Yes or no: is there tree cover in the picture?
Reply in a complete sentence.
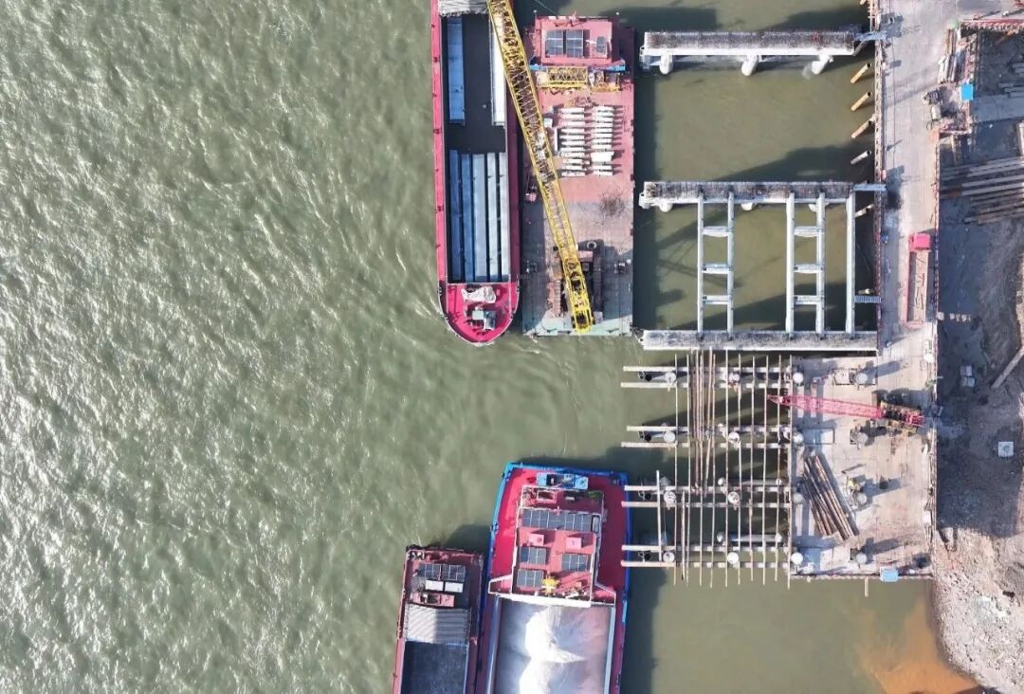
No, the picture contains no tree cover.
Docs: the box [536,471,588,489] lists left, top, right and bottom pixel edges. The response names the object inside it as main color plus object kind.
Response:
blue boat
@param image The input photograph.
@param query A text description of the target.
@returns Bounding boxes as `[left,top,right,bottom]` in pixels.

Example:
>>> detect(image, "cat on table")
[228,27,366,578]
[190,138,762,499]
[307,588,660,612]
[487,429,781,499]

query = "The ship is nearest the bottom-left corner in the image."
[391,543,485,694]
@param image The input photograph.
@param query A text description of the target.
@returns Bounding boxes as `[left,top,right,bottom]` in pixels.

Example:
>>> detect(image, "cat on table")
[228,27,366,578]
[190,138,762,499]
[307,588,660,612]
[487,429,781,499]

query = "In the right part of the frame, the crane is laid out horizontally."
[746,388,928,430]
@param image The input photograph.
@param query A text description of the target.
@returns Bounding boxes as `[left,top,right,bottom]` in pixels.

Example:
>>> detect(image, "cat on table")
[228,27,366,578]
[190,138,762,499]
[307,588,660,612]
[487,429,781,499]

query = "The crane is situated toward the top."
[487,0,604,331]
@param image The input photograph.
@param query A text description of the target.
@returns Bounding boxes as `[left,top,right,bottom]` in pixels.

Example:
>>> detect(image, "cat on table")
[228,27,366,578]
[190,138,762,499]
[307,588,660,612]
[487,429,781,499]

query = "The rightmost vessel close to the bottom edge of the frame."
[481,462,629,694]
